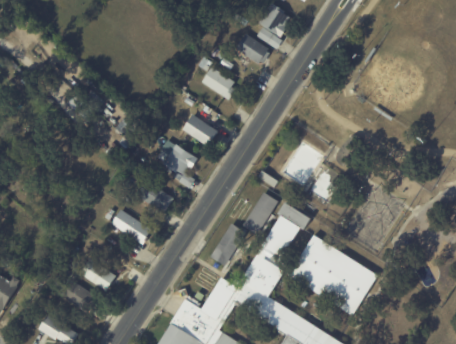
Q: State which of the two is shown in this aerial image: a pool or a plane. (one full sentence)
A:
The one in the frame is a pool.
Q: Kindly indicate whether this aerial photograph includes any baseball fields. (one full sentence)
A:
Yes, a baseball field is visible in the scene.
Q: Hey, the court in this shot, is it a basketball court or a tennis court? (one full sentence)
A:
Specifically, the court is a tennis court.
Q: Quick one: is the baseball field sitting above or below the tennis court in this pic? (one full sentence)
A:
Within the scene, the baseball field can be found above the tennis court.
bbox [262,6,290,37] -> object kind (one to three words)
house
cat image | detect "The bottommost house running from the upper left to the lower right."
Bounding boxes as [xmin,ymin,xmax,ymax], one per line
[40,316,76,344]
